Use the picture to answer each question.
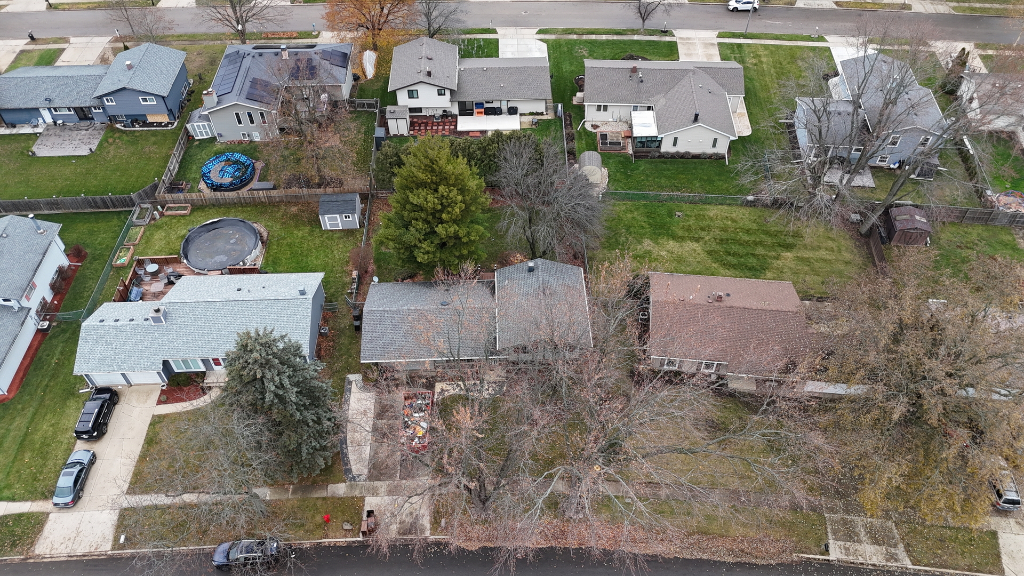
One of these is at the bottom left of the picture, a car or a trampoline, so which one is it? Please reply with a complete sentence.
The one visible at the bottom left of the picture is a car.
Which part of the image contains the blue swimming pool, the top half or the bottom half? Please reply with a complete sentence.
You can find the blue swimming pool in the top half.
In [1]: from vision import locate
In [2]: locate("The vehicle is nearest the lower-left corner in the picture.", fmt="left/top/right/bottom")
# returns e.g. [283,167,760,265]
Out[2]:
[48,448,97,506]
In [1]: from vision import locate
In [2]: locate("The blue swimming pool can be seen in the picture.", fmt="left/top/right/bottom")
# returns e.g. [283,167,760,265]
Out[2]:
[199,149,257,188]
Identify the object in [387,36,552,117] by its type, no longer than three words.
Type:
house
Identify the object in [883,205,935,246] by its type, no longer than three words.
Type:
shed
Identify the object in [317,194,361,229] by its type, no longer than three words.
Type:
shed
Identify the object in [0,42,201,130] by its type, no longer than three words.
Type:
house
